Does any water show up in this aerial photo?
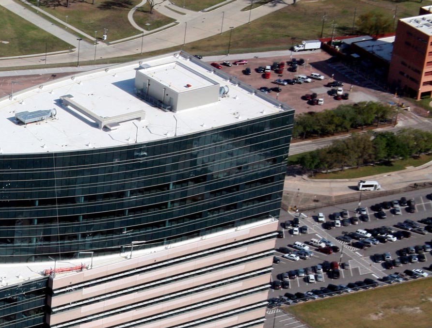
No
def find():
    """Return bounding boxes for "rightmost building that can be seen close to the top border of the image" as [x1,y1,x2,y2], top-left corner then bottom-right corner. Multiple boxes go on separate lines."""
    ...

[388,5,432,99]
